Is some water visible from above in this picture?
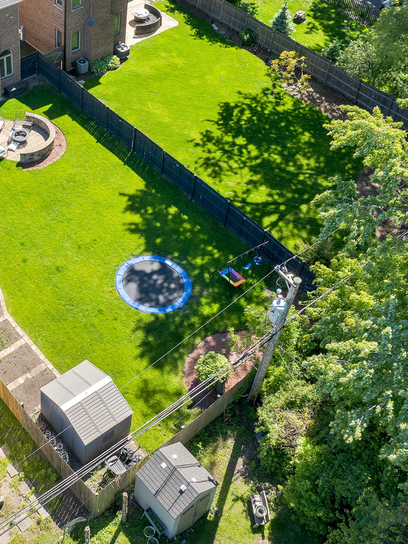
No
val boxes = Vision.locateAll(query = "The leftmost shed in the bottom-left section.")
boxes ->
[41,361,134,464]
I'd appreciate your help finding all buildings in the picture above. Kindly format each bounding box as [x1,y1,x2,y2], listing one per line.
[41,361,134,464]
[136,443,218,537]
[19,0,127,65]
